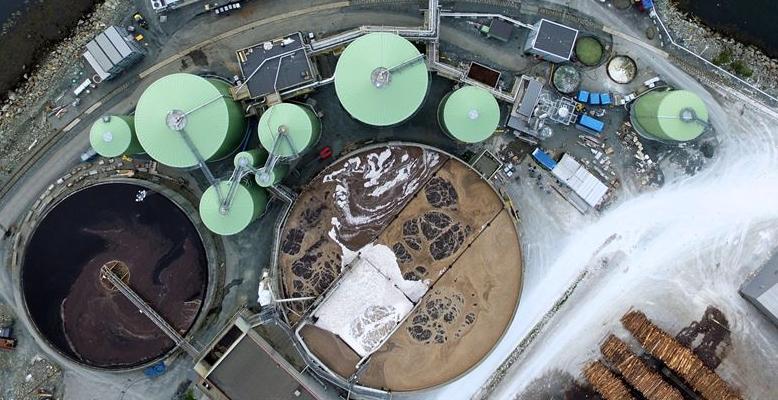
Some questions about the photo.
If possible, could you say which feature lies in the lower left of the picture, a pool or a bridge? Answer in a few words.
bridge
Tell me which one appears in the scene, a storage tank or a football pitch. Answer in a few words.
storage tank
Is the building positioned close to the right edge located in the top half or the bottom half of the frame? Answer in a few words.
bottom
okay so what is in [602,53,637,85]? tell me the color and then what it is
white storage tank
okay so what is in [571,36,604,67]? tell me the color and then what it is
green storage tank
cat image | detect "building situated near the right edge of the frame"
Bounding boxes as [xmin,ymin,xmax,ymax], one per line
[740,250,778,322]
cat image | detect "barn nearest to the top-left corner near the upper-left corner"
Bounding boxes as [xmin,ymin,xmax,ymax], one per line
[84,25,145,81]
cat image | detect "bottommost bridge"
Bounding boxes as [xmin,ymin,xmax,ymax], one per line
[99,262,207,364]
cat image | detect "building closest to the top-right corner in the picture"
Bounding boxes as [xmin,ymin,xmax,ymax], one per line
[525,19,578,62]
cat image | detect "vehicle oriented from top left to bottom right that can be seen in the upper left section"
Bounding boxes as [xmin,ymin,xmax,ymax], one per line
[135,11,153,30]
